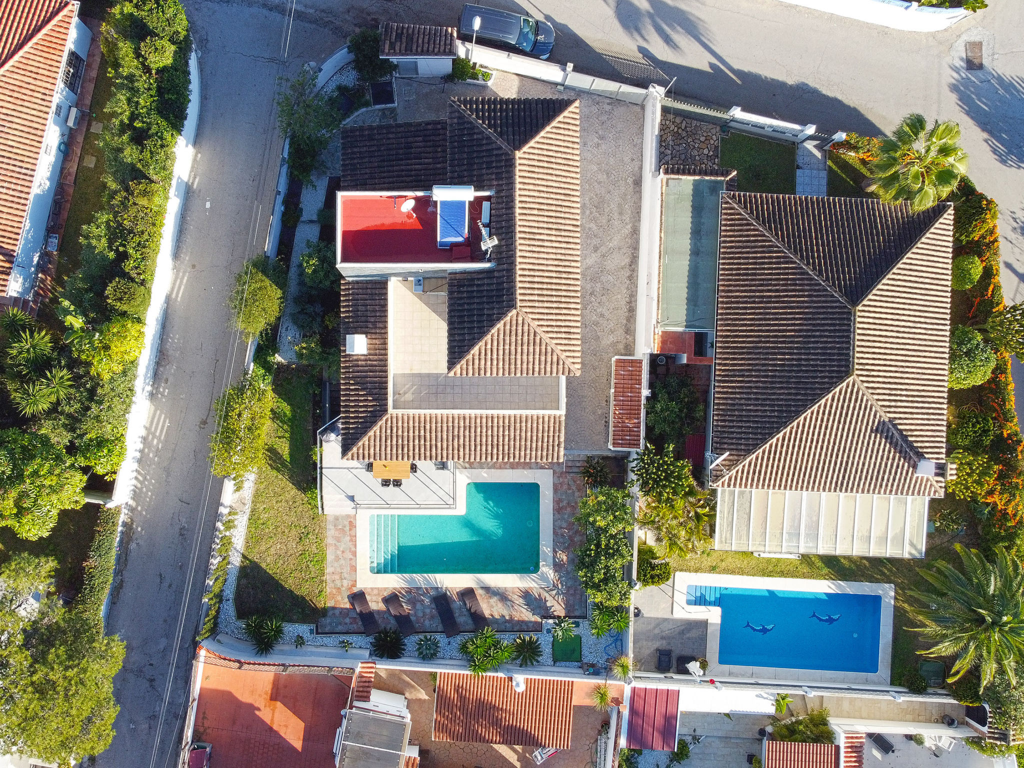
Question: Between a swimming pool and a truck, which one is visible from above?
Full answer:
Of the two, only a swimming pool appears.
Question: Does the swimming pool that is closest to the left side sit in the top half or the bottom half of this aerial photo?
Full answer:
You can find the swimming pool that is closest to the left side in the bottom half.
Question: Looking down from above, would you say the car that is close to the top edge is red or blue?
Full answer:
The car that is close to the top edge is blue.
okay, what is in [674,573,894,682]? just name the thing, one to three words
swimming pool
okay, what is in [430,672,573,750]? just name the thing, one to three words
building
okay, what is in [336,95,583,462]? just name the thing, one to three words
house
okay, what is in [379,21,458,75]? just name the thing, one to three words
shed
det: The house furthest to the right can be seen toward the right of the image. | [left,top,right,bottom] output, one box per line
[701,190,958,500]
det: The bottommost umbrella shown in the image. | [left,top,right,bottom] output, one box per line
[685,662,701,678]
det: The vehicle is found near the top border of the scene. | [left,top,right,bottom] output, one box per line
[458,0,553,62]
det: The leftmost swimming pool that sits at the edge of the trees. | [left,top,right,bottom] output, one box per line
[356,469,552,588]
